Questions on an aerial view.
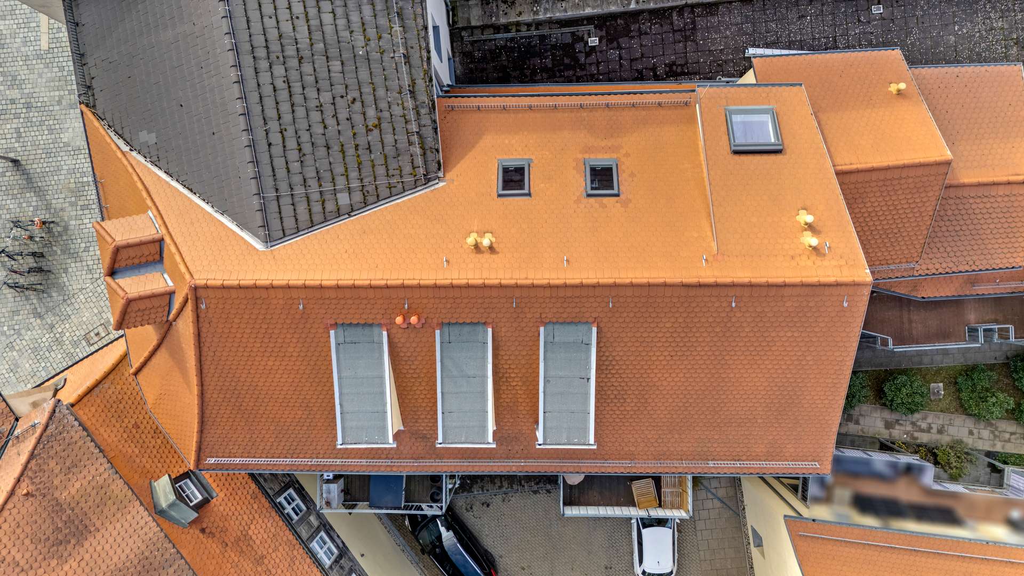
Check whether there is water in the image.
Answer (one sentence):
No, there is no water in the image.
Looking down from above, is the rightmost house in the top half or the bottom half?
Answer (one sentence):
The rightmost house sits in the top half of the picture.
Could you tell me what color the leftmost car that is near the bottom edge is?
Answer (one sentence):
The leftmost car that is near the bottom edge looks black in the image.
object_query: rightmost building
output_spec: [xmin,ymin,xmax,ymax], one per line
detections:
[909,59,1024,279]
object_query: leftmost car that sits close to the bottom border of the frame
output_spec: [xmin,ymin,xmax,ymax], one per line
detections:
[405,499,496,576]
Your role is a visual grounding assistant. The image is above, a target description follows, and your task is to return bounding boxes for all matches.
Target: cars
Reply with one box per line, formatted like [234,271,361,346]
[625,511,683,576]
[405,499,496,576]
